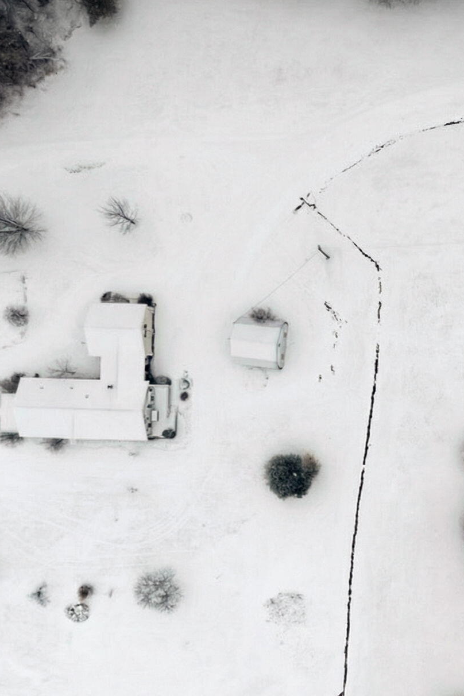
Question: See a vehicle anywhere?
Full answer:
No, the frame has no vehicle in it.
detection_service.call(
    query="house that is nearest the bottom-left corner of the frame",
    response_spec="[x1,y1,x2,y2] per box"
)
[0,303,179,440]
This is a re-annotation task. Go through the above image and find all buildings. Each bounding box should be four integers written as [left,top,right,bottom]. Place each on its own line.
[229,317,286,370]
[0,303,179,440]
